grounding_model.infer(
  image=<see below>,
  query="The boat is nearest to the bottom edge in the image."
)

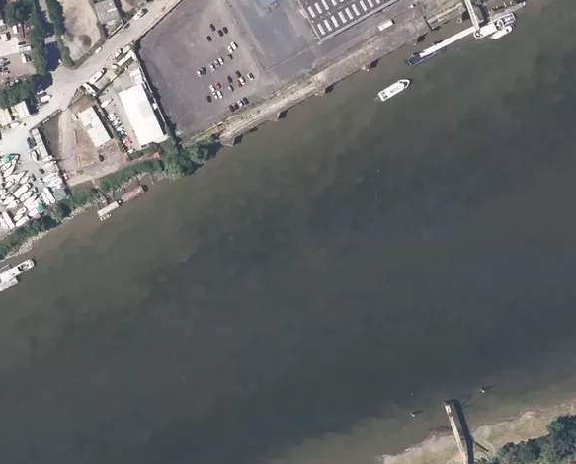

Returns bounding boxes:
[0,260,34,282]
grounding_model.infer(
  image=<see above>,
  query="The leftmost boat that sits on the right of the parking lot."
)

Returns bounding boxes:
[378,80,409,102]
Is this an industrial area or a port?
port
